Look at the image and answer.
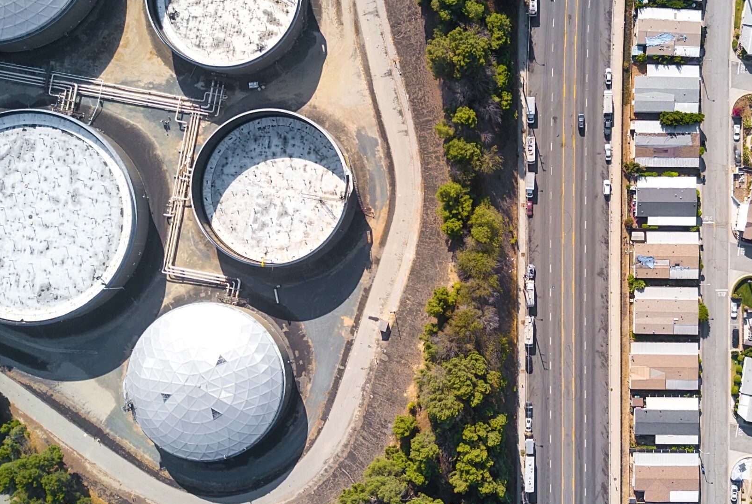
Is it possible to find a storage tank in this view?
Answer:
Yes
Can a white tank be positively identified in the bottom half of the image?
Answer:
Yes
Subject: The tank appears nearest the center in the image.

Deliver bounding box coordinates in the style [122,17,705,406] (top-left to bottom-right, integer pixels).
[192,109,351,271]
